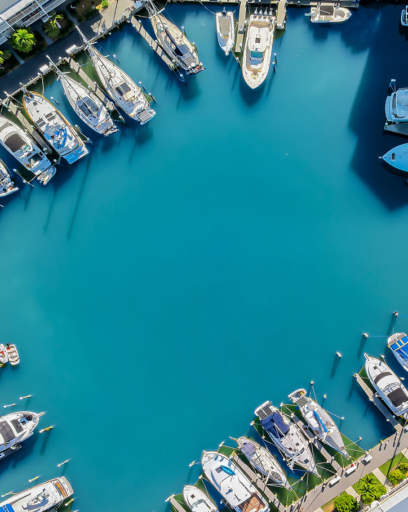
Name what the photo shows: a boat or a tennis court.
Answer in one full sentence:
The one in the frame is a boat.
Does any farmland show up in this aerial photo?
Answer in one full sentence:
No, farmland can't be seen anywhere here.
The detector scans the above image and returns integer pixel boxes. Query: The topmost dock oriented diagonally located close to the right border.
[355,375,403,430]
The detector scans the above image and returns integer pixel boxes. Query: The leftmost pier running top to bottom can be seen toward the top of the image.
[235,0,247,53]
